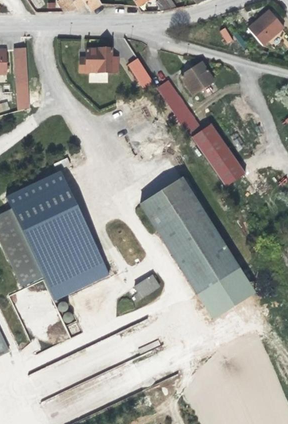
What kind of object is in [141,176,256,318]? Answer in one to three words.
building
